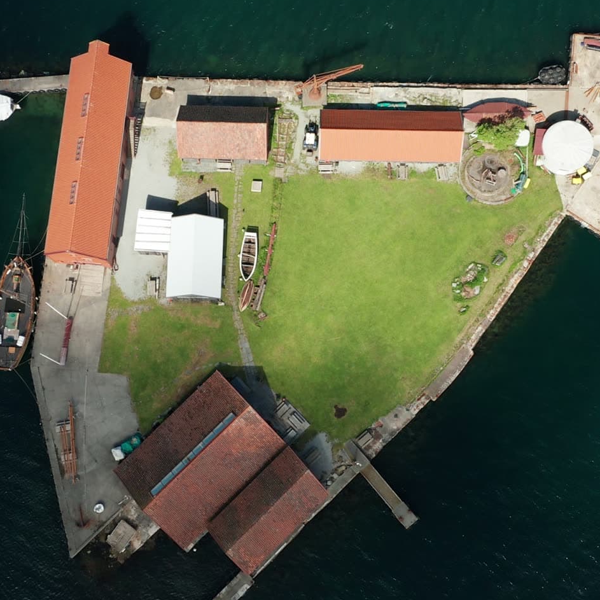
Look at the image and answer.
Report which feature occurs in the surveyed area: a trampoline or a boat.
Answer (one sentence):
Of the two, only a boat appears.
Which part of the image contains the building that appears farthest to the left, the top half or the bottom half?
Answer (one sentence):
The building that appears farthest to the left sits in the top half of the picture.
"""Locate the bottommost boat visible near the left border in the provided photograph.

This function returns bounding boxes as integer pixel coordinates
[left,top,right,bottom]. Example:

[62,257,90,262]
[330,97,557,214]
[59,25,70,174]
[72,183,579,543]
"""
[0,196,38,373]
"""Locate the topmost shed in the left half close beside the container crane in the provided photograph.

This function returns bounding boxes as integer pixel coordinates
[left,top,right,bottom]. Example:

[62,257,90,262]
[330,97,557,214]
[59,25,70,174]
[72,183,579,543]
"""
[177,105,268,168]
